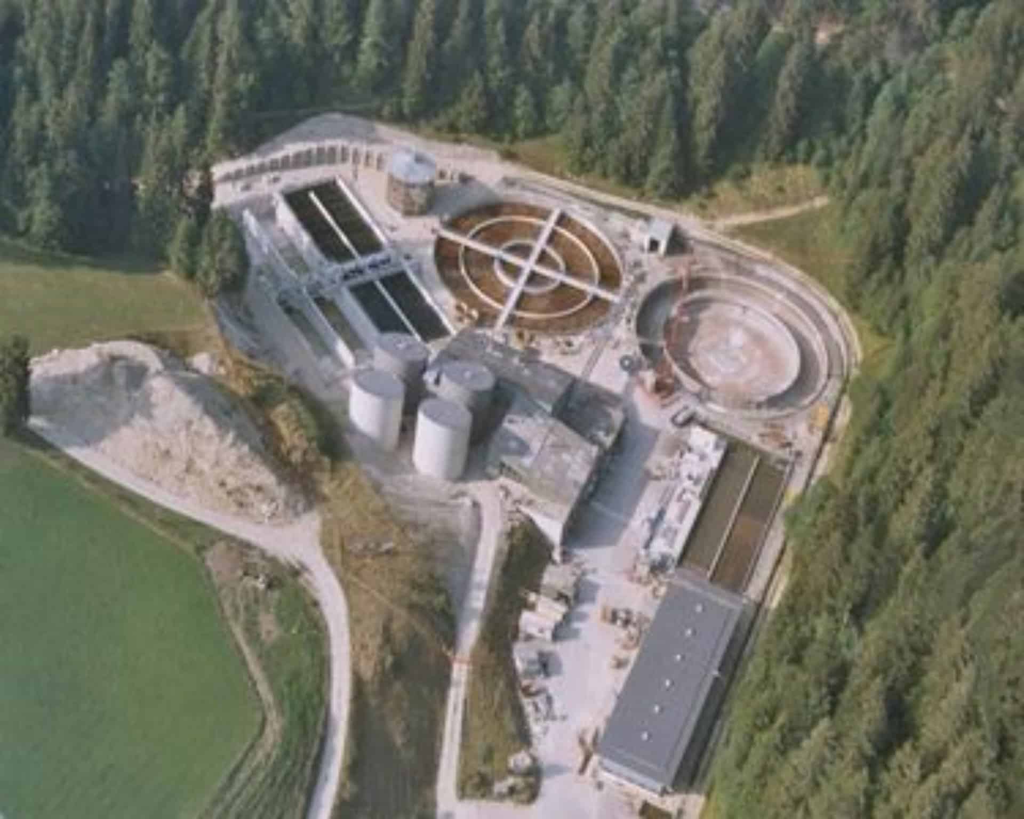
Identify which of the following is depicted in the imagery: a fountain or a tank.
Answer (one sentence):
The image shows a tank.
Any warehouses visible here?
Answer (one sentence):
Yes, I can see a warehouse in this picture.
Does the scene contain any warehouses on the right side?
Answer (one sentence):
Yes, the scene does show a warehouse on the right side.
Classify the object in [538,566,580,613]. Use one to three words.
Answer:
shed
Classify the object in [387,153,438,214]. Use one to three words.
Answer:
storage tank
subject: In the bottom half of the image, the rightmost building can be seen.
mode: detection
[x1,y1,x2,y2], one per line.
[586,569,746,803]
